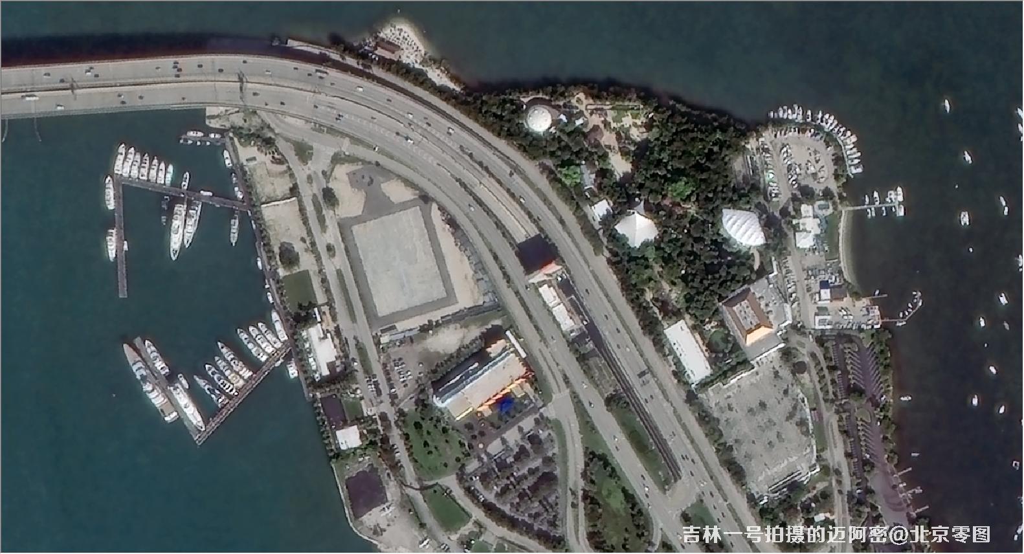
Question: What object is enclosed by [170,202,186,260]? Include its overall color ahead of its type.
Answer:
white boat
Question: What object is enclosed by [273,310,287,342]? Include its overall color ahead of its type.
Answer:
white boat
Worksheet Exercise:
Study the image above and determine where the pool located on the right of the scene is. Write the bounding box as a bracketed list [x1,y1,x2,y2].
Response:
[815,200,833,217]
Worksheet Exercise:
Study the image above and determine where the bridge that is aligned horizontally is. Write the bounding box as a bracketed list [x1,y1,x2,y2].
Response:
[0,54,360,138]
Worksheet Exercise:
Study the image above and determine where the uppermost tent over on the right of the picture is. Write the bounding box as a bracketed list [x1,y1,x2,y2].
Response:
[615,212,660,248]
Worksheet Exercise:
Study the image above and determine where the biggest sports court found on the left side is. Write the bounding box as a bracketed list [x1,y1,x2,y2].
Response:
[320,395,347,430]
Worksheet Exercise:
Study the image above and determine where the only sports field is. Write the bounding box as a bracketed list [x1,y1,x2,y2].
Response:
[283,269,317,310]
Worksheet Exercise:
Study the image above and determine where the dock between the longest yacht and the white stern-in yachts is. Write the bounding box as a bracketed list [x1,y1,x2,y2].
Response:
[136,335,201,441]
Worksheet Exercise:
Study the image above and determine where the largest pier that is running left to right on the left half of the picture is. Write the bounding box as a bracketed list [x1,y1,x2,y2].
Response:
[116,173,246,208]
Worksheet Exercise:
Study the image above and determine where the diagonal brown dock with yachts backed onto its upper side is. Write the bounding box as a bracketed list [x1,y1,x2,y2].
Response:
[198,346,291,443]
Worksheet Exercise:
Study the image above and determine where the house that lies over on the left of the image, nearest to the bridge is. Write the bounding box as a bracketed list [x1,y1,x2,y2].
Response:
[375,36,400,60]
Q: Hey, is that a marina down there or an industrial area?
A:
marina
